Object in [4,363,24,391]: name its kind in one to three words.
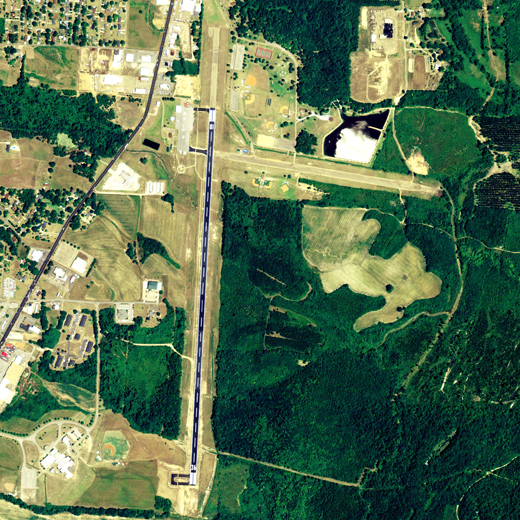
building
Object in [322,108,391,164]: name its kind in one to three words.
pond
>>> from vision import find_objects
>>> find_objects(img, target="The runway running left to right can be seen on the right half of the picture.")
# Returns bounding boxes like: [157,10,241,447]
[213,151,441,193]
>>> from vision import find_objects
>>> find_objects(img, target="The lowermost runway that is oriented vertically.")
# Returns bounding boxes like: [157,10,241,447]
[190,108,215,486]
